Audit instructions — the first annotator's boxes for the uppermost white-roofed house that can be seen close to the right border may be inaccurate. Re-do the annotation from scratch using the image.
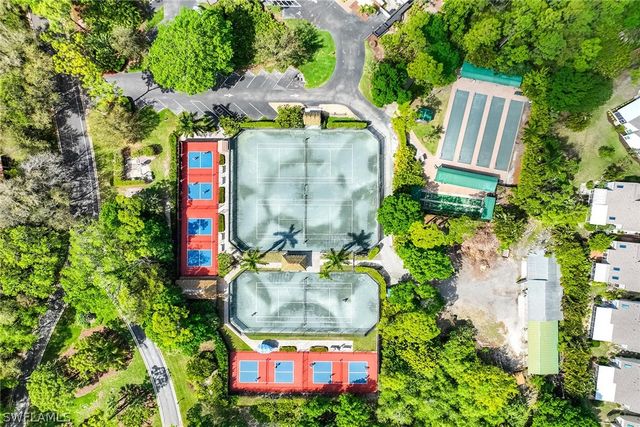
[607,94,640,154]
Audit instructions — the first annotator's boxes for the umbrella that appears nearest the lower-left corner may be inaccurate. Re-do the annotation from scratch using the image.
[258,340,271,353]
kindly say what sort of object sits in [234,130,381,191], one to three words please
tennis court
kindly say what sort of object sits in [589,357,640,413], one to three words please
house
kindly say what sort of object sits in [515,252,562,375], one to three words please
barn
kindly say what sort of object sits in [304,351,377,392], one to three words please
sports court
